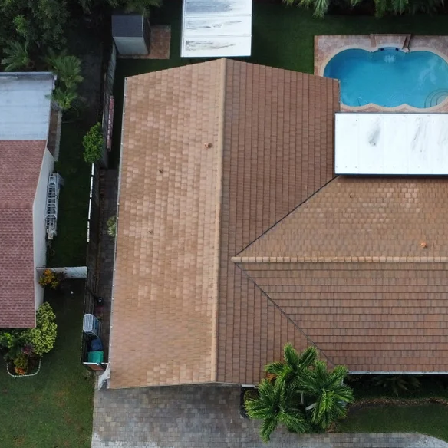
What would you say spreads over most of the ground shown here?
buildings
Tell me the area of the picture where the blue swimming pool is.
top right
